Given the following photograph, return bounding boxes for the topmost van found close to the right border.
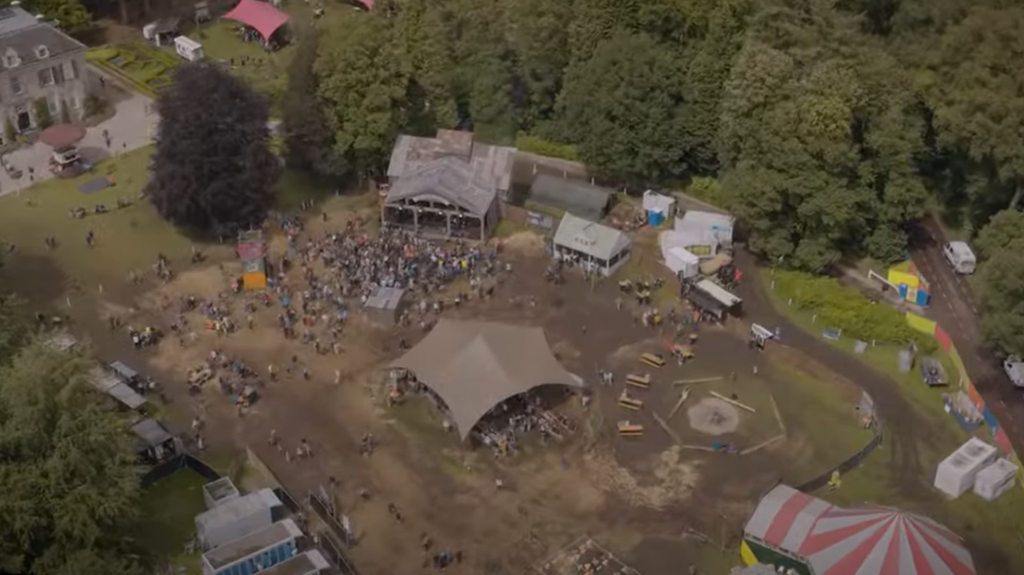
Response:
[942,244,976,274]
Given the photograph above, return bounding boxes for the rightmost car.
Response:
[1002,361,1024,386]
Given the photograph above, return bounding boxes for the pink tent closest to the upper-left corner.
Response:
[219,0,292,55]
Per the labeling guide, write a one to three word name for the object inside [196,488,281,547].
building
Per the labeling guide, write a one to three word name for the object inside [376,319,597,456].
tent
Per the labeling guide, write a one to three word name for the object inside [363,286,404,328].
shed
